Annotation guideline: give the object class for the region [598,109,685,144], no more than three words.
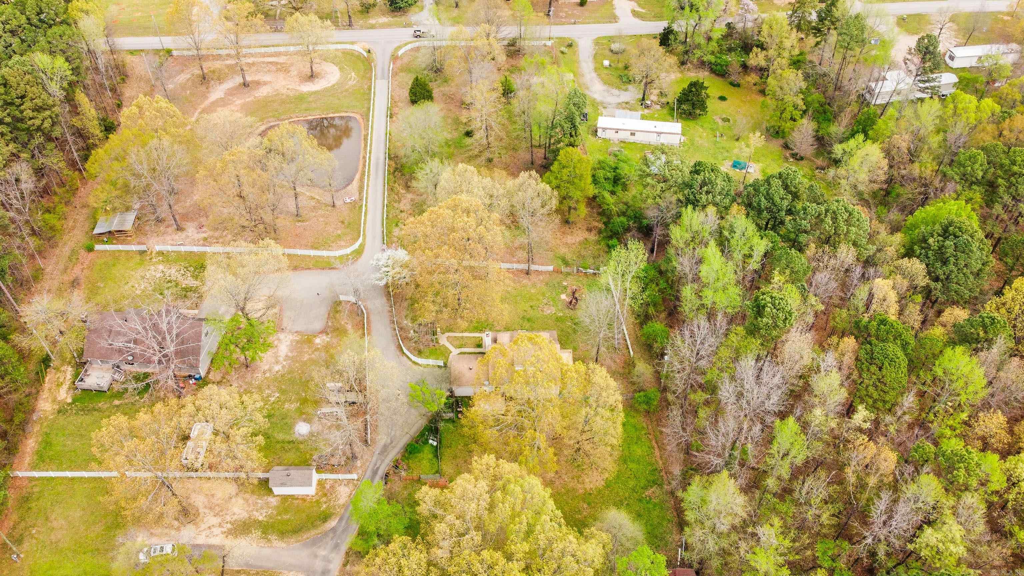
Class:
house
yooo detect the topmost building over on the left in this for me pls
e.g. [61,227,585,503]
[93,210,146,242]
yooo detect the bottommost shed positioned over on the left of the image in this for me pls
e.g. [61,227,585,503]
[268,465,318,494]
